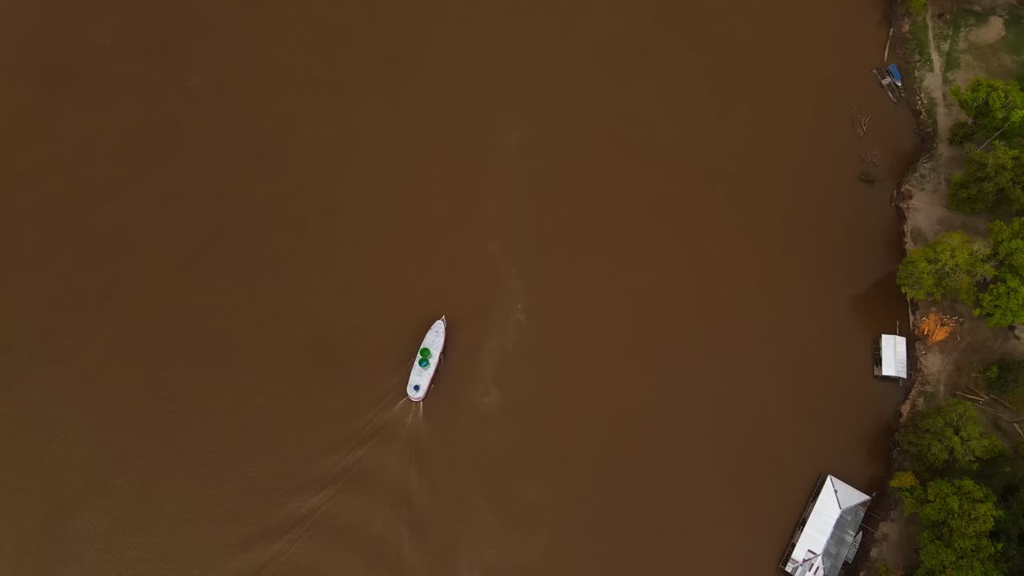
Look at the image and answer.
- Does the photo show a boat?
Yes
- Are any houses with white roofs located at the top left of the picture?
No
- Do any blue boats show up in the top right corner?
Yes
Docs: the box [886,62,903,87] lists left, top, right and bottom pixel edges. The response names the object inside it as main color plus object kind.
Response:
blue boat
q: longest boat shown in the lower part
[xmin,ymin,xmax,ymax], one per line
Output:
[406,314,445,402]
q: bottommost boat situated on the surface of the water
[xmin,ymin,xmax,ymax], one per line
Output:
[844,530,863,563]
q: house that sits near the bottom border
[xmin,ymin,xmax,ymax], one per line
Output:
[778,471,871,576]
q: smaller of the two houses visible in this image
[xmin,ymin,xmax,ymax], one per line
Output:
[871,322,906,387]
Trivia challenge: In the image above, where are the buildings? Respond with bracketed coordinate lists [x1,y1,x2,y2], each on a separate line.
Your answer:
[778,471,871,576]
[871,322,906,387]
